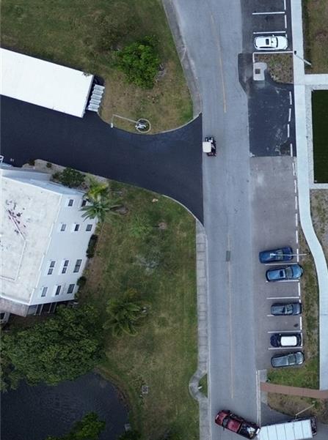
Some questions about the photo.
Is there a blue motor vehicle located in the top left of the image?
No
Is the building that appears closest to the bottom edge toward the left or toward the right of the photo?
left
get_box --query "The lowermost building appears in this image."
[0,166,104,314]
